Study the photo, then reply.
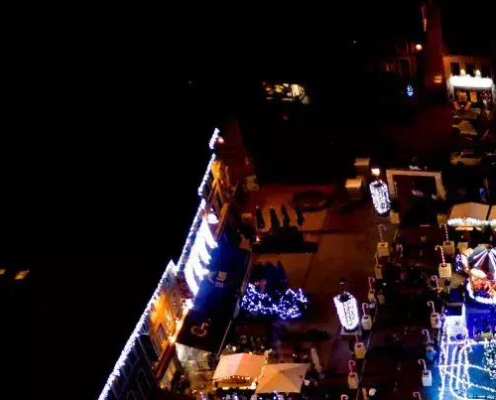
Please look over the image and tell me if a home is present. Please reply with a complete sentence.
Yes, there's a home here.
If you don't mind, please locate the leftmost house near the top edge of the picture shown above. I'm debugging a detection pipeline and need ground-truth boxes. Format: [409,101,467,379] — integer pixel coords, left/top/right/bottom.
[228,15,338,112]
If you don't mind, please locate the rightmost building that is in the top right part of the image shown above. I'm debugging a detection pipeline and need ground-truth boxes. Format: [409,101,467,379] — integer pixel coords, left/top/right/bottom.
[439,14,496,106]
